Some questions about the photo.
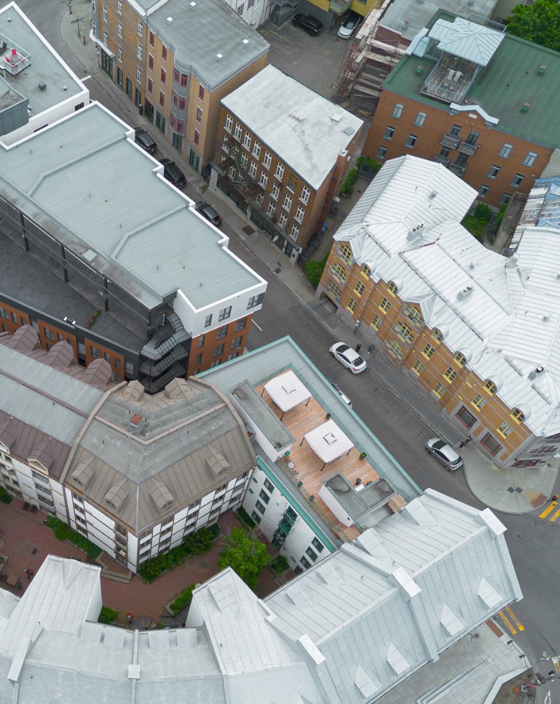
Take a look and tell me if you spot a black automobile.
Yes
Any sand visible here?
No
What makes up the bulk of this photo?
buildings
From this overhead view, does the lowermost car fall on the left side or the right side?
right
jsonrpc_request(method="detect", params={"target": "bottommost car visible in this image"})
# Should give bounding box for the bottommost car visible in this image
[425,438,464,472]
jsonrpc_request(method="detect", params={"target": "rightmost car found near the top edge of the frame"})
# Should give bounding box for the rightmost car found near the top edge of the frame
[337,14,359,38]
